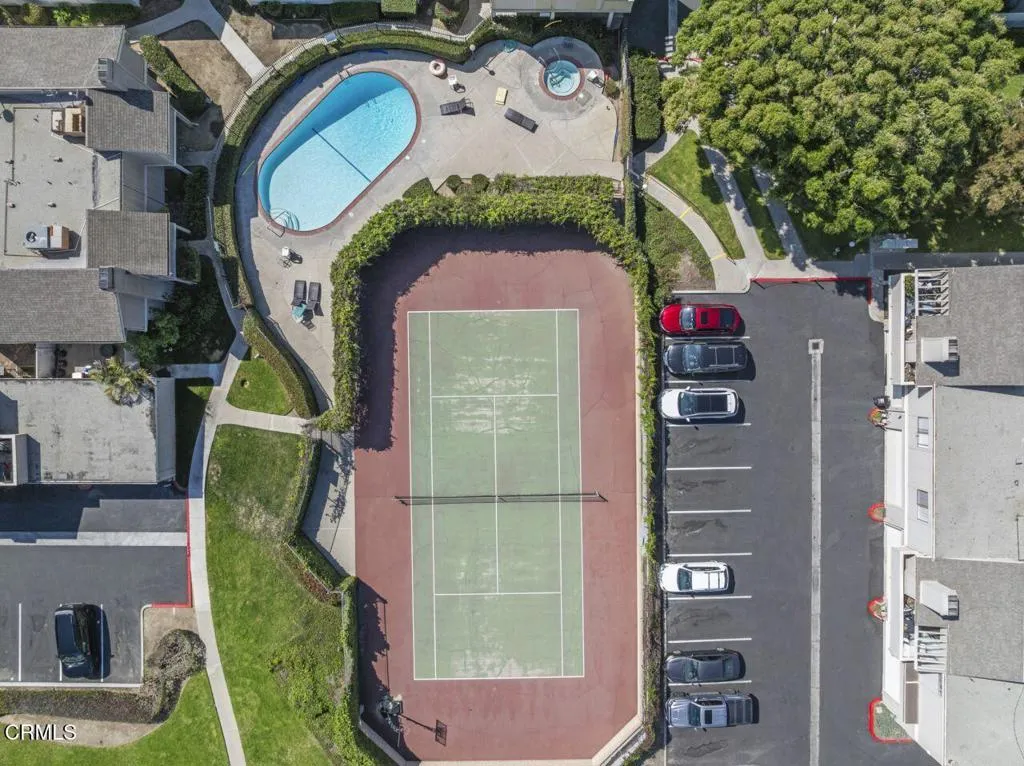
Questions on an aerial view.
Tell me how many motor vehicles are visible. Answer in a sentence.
The number of motor vehicles here is 7.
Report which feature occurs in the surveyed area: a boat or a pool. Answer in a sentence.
Visible in the photo is a pool.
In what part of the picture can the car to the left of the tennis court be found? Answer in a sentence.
You can find the car to the left of the tennis court in the bottom left area of the picture.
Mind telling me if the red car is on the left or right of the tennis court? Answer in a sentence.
To the right of the tennis court is where the red car appears.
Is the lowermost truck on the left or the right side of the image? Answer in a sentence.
You can find the lowermost truck on the right side of the picture.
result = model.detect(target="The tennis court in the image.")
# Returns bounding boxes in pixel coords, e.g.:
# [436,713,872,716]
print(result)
[353,222,645,766]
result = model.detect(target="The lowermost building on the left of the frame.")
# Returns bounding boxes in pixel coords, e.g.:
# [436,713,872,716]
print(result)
[0,378,177,497]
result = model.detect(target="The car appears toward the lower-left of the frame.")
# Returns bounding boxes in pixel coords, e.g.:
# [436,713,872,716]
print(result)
[52,603,97,677]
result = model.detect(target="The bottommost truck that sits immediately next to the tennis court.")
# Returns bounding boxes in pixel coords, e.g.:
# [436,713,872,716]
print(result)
[665,690,751,732]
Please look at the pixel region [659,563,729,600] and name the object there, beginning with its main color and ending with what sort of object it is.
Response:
white car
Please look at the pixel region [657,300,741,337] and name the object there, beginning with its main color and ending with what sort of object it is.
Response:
red car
